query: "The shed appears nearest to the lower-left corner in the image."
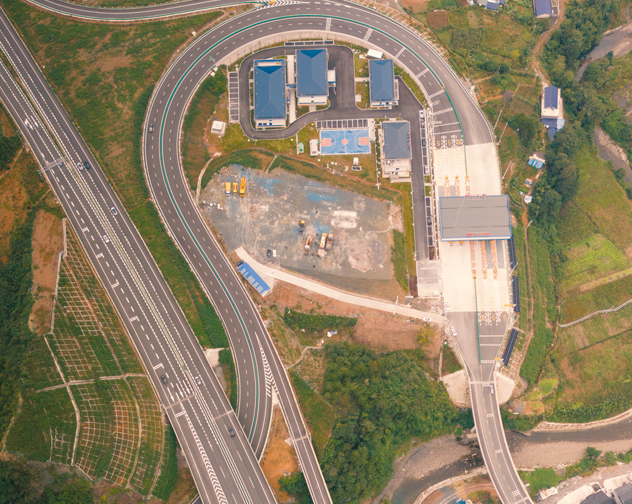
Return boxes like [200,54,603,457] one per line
[237,262,272,296]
